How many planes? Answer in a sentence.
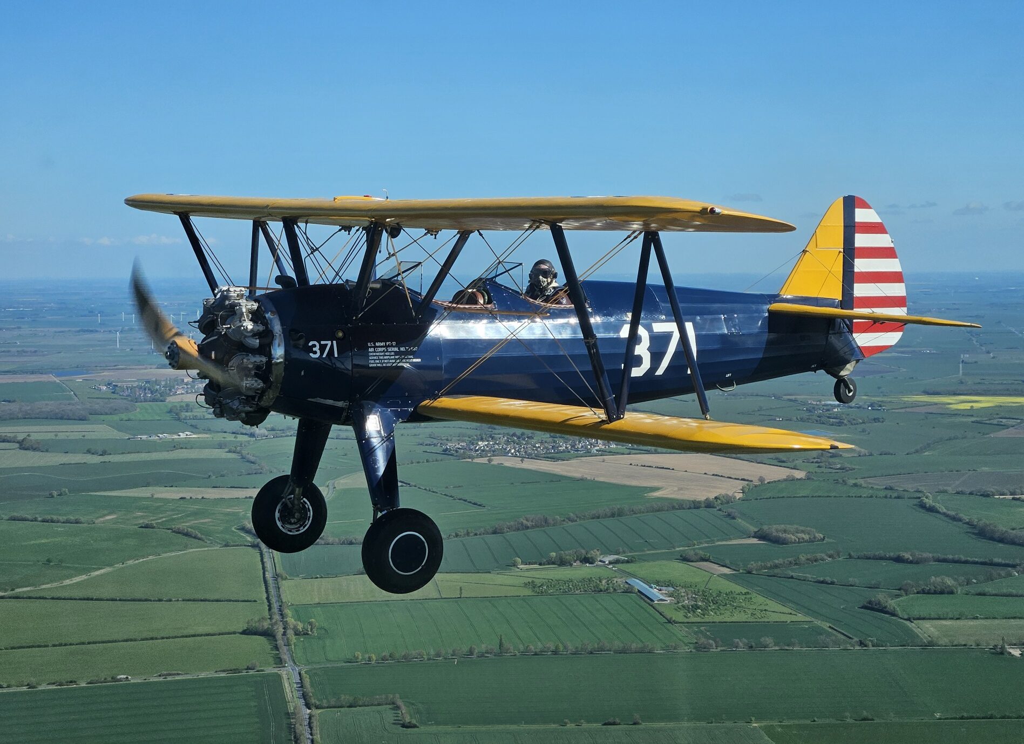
My tally gives 1 plane in this photo.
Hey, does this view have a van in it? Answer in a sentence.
No, I find no van anywhere in the image.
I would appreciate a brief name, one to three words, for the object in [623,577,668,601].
barn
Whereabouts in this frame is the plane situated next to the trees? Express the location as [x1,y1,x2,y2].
[124,186,996,593]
